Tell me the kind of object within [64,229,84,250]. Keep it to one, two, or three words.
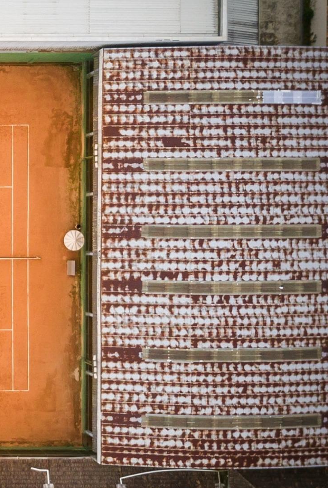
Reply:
umbrella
